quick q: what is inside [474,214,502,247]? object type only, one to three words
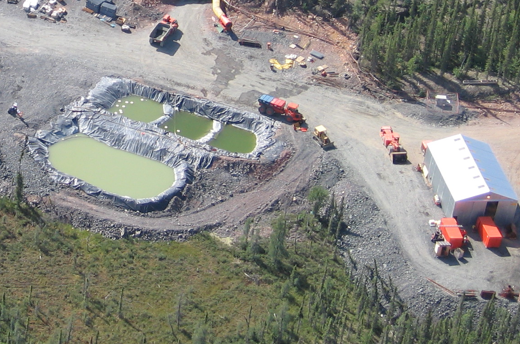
shipping container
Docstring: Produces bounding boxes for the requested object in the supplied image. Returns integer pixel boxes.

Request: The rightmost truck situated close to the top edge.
[148,17,181,45]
